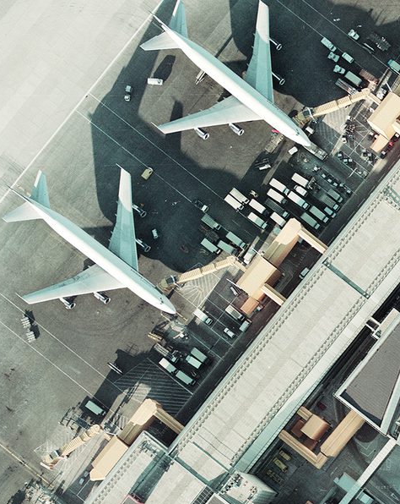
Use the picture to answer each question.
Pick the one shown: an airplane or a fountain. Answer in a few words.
airplane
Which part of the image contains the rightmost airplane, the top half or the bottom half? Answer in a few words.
top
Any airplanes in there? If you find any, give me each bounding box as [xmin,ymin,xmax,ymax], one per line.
[145,0,312,147]
[6,165,174,315]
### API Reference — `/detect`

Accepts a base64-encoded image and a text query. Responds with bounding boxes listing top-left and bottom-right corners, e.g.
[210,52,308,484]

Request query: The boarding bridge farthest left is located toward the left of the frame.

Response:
[51,422,114,460]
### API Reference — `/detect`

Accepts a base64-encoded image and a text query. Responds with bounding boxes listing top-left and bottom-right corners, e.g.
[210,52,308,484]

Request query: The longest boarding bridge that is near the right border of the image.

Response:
[303,87,385,121]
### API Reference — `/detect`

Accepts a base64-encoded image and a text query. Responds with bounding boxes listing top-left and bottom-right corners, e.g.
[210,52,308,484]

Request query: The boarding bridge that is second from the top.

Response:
[165,256,248,289]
